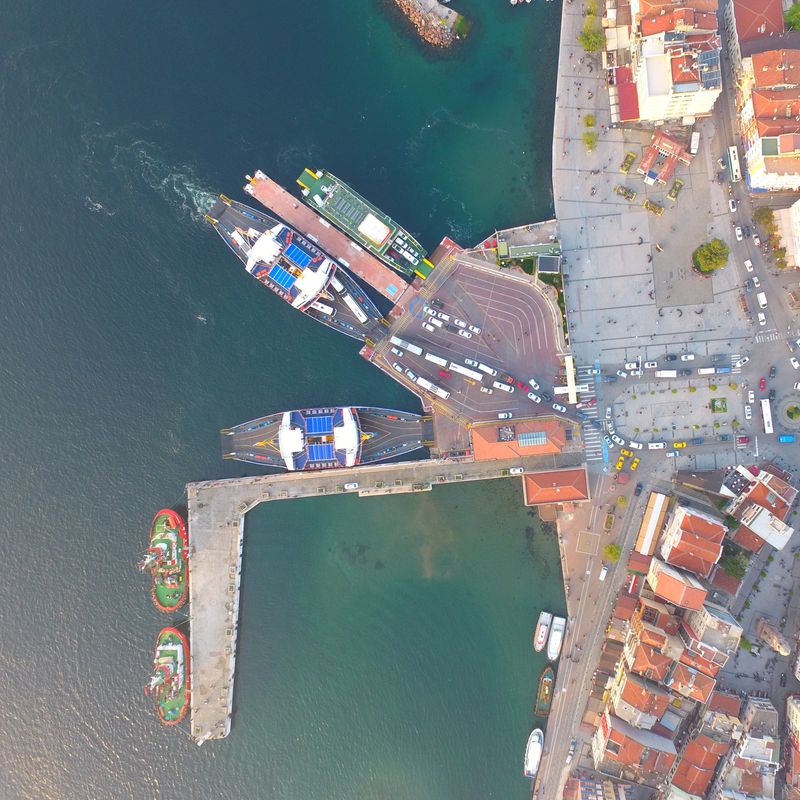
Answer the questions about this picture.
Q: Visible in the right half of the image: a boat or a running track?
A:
boat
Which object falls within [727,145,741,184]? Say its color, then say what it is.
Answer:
white vehicle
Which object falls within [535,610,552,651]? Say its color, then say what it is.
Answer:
white boat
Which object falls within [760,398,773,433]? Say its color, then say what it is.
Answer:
white vehicle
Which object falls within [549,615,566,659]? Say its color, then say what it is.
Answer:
white boat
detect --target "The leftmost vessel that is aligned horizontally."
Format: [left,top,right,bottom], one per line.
[220,407,435,471]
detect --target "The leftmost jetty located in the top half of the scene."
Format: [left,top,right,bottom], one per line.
[245,168,409,303]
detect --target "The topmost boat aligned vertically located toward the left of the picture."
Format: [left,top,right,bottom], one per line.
[147,508,191,612]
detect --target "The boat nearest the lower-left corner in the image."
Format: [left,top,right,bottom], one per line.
[149,626,193,727]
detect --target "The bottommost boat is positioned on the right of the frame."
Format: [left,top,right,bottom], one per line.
[523,727,545,777]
